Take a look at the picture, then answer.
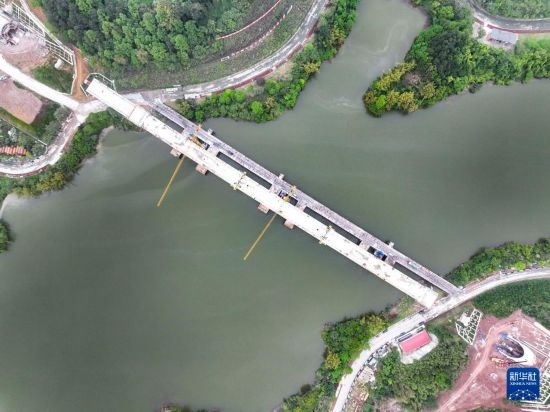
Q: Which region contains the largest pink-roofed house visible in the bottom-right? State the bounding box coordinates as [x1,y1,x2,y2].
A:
[400,329,432,355]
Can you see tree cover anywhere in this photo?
Yes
